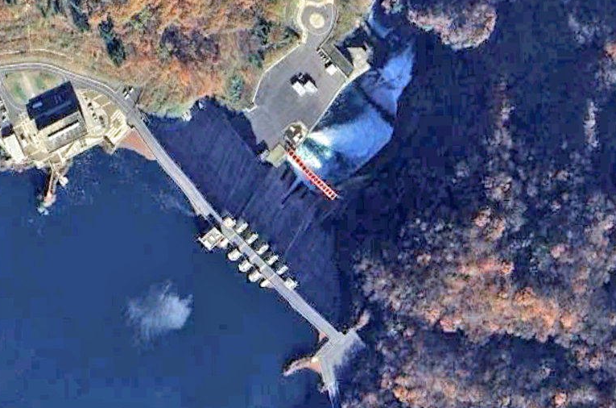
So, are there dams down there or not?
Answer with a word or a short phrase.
Yes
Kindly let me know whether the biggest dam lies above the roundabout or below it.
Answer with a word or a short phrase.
below it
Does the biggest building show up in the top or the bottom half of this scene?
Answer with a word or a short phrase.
top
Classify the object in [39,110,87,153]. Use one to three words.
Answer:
building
